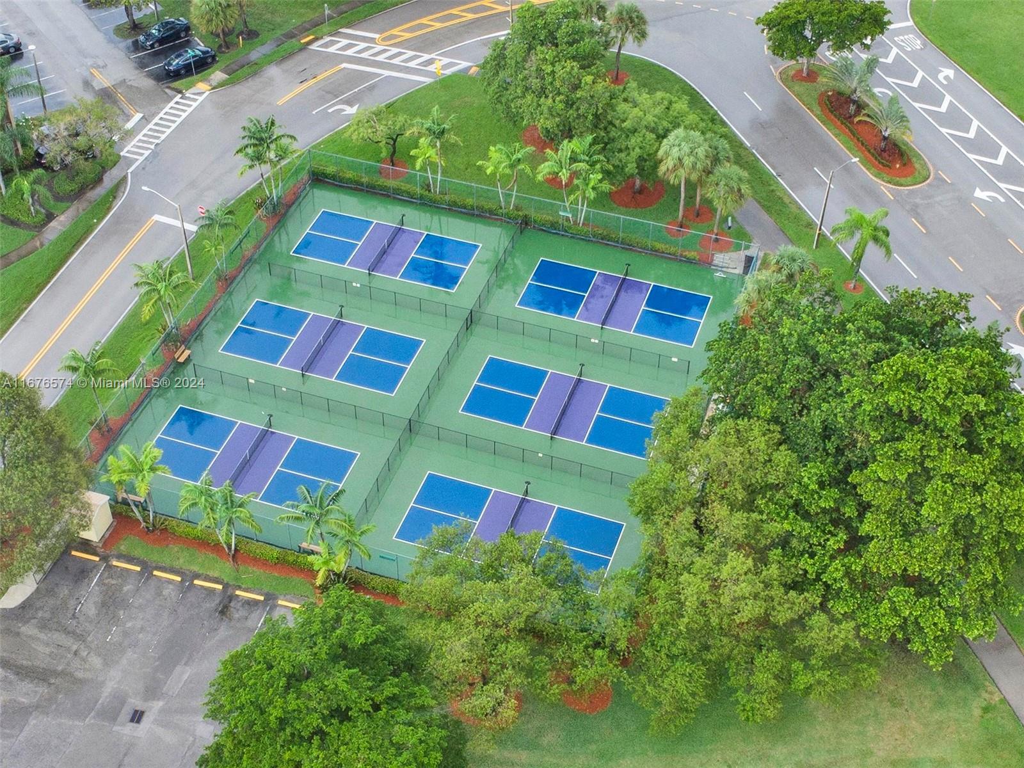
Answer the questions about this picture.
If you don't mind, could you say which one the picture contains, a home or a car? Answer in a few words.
car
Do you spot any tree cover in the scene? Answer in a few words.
Yes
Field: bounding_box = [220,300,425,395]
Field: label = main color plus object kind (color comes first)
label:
blue sports court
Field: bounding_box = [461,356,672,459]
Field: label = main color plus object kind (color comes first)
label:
blue sports court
